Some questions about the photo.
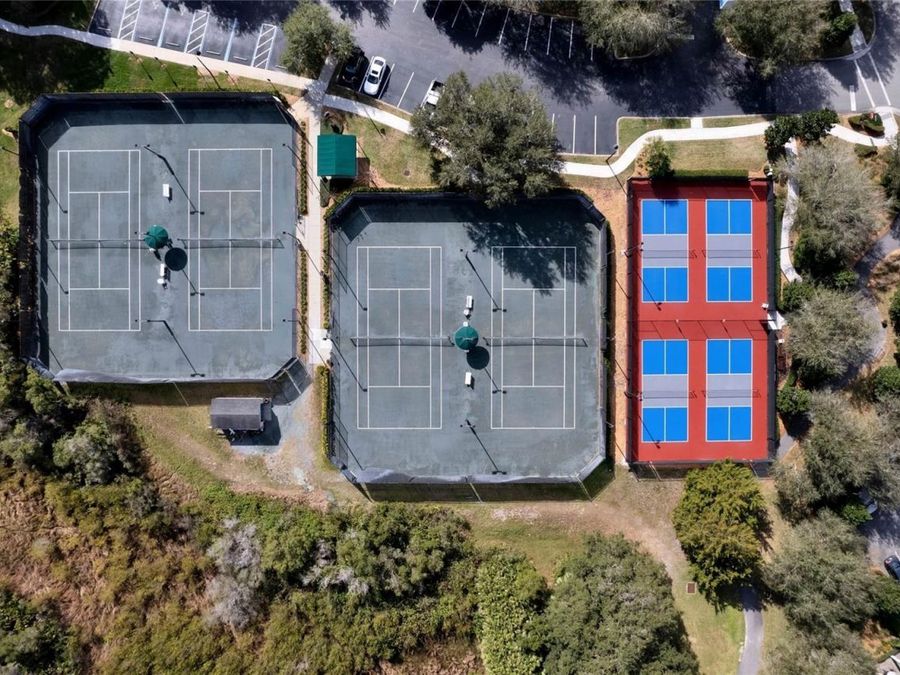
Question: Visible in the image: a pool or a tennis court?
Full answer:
It is a tennis court that can be seen here.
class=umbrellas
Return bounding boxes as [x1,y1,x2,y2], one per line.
[145,226,168,249]
[455,327,477,350]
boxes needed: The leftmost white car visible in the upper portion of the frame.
[364,54,388,95]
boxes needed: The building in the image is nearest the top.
[317,133,359,181]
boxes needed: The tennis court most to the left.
[33,100,165,378]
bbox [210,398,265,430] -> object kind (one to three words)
shed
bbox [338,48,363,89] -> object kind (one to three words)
car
